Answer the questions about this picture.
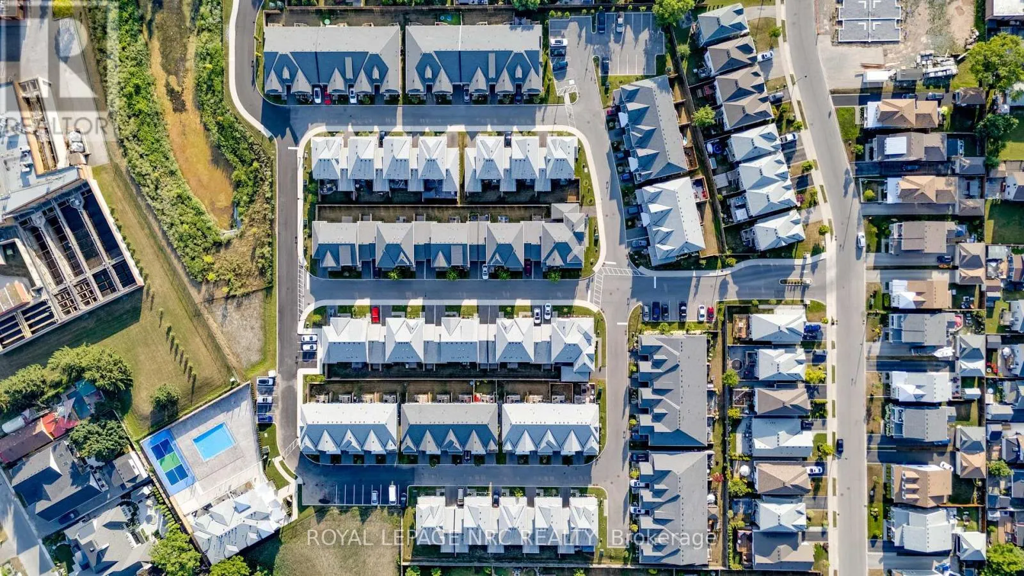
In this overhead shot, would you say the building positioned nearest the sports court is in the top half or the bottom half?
bottom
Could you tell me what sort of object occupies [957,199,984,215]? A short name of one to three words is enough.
building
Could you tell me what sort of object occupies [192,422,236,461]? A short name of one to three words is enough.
swimming pool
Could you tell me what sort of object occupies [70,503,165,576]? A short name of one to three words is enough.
house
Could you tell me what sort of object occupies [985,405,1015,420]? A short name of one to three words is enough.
shed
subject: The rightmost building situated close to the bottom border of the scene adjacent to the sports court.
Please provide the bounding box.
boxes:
[189,475,288,565]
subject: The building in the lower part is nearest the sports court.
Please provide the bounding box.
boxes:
[114,450,153,486]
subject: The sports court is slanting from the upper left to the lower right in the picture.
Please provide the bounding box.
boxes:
[141,428,198,495]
